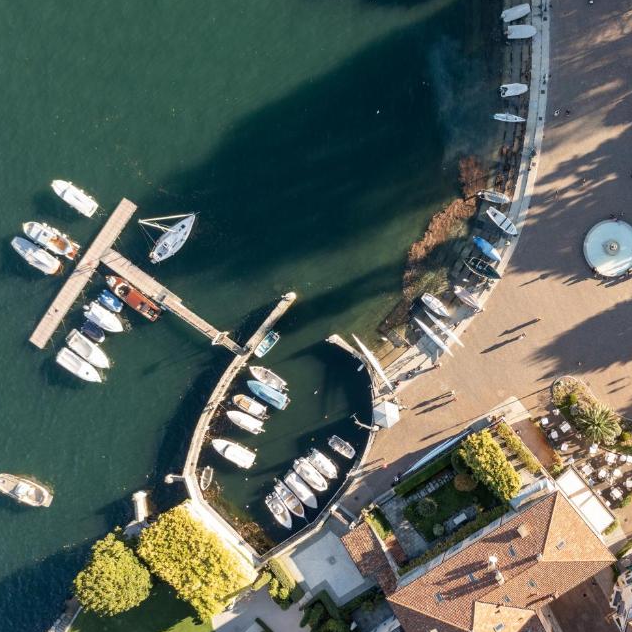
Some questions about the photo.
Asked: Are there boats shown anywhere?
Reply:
Yes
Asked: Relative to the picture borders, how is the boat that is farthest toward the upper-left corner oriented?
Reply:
diagonally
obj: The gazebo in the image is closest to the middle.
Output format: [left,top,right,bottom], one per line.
[374,399,401,427]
